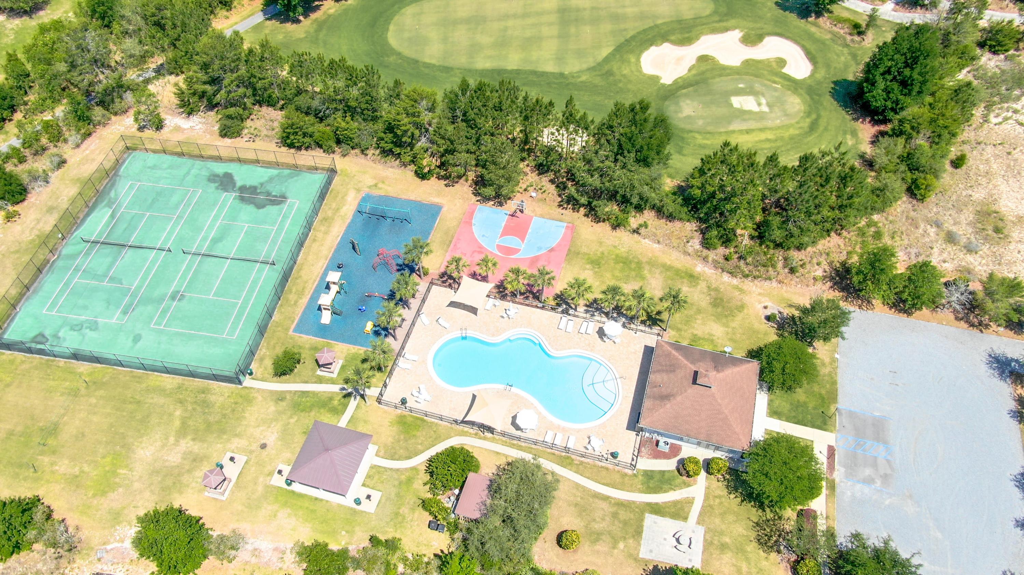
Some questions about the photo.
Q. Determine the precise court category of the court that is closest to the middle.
basketball court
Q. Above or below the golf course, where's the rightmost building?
below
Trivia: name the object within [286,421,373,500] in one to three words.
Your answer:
building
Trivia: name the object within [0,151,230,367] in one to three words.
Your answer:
tennis court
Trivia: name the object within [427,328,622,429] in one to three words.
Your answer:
swimming pool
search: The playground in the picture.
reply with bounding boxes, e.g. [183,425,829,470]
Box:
[290,192,444,348]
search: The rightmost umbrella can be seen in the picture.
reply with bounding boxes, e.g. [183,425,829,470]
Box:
[603,321,623,338]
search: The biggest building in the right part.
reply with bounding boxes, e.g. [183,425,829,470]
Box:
[639,338,761,468]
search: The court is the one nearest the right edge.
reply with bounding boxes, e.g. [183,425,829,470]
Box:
[440,204,575,295]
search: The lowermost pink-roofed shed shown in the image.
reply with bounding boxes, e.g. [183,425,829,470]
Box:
[453,475,495,530]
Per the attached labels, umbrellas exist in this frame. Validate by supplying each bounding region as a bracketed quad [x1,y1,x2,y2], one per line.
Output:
[603,321,623,338]
[515,410,539,431]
